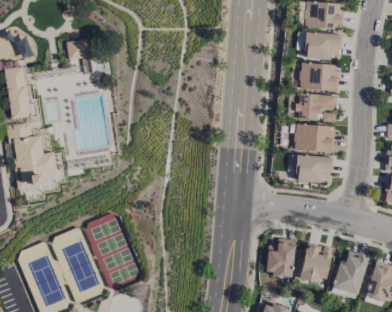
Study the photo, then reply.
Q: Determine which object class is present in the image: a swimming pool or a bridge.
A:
swimming pool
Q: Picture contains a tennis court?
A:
Yes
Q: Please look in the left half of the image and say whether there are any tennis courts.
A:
Yes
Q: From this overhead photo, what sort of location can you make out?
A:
residential area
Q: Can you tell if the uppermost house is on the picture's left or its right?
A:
right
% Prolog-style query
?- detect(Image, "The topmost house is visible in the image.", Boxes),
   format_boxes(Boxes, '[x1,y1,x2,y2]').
[304,2,344,30]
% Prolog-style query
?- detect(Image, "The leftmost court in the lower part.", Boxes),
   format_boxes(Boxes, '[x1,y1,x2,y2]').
[19,243,70,312]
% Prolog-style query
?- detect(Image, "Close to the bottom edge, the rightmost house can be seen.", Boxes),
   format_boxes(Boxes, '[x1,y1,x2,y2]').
[364,260,392,302]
